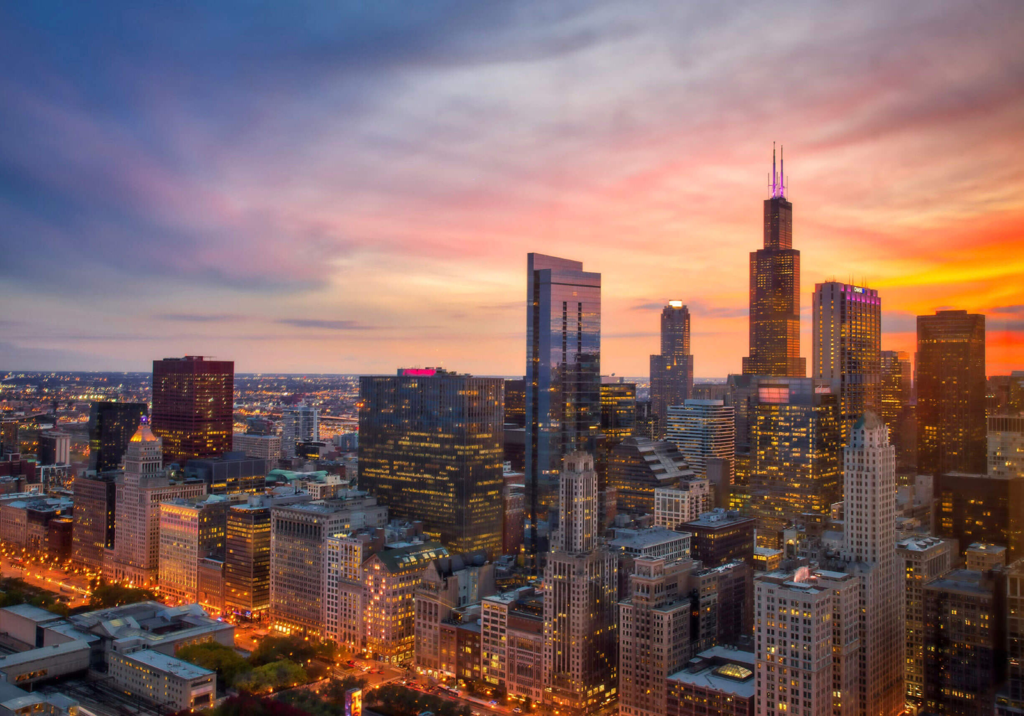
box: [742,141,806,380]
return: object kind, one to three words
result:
building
